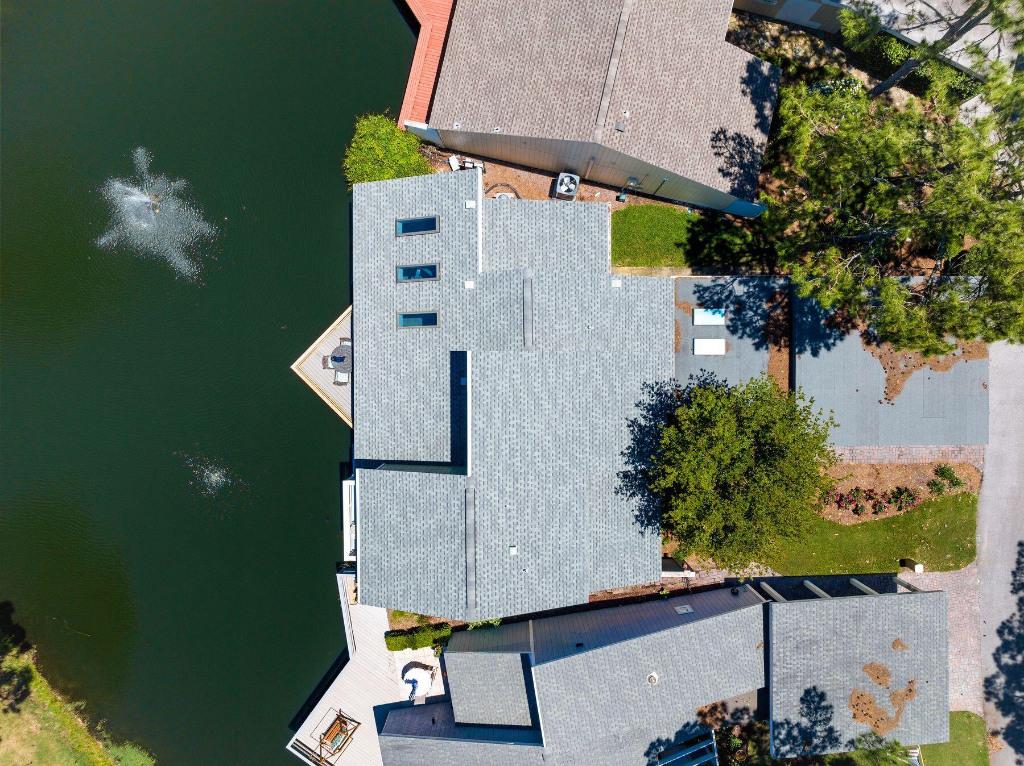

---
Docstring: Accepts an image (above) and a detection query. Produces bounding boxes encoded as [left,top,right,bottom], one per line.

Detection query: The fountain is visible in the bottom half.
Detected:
[181,456,240,501]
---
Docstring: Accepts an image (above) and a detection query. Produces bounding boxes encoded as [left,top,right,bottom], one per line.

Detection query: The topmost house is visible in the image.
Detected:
[403,0,784,218]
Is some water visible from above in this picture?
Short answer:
Yes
